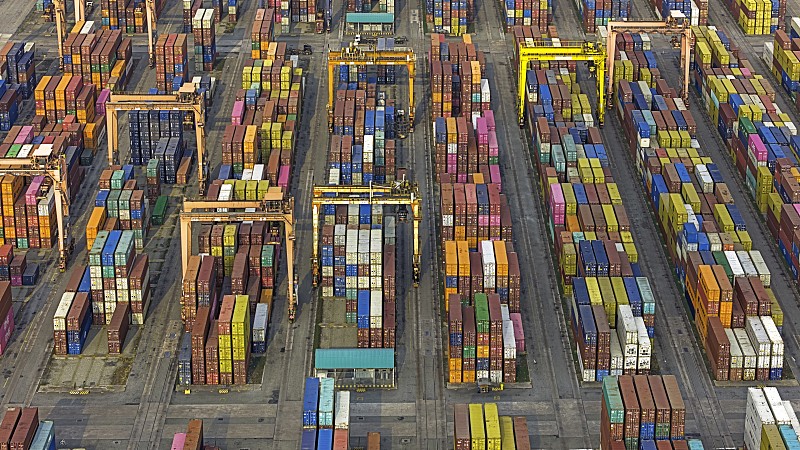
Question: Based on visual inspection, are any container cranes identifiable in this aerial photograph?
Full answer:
Yes, you can see a container crane in this photo.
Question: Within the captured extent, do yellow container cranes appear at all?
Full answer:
Yes, there's a yellow container crane down there.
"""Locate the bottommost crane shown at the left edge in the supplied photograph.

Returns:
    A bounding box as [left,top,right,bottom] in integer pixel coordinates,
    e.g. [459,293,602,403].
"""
[0,145,73,267]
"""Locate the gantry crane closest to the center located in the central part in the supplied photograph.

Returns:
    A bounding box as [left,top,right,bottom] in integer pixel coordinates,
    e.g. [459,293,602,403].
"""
[309,171,424,288]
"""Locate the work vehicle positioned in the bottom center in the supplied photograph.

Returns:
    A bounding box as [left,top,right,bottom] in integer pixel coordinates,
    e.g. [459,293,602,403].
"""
[476,380,490,397]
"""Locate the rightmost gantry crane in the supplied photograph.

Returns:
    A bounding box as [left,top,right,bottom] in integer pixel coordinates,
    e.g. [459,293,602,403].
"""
[602,9,693,108]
